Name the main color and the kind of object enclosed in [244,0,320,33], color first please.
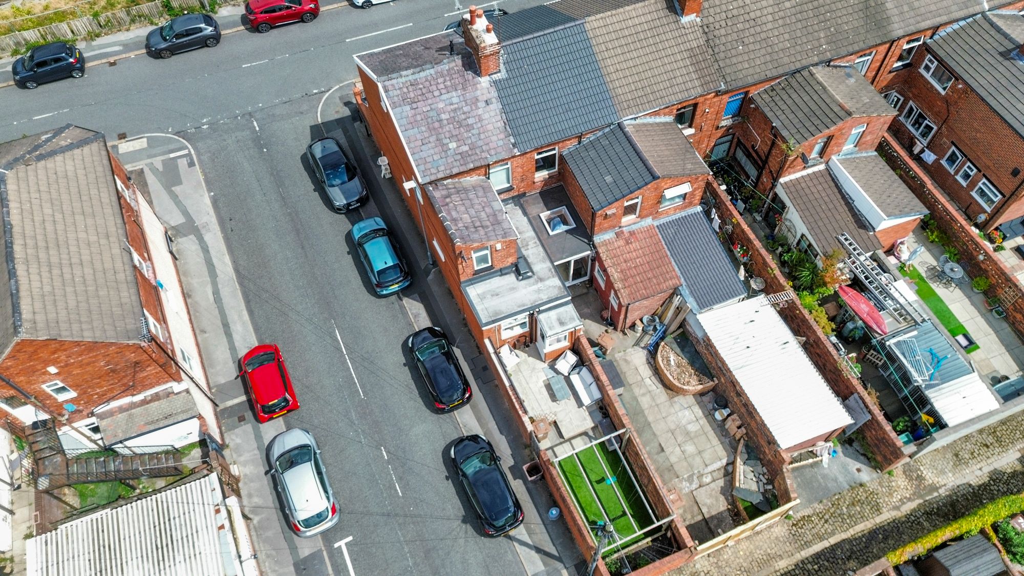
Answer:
red car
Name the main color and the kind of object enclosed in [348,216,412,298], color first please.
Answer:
blue car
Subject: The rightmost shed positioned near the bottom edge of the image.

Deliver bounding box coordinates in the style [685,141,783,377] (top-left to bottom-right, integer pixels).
[911,532,1014,576]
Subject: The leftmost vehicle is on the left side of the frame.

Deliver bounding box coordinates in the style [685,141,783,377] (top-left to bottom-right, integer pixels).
[11,41,87,90]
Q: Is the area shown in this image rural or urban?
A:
urban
